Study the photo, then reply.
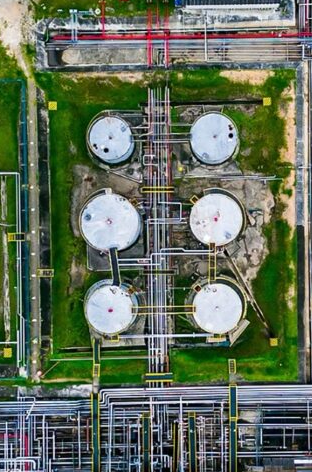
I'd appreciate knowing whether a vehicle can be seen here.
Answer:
No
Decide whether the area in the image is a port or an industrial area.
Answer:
industrial area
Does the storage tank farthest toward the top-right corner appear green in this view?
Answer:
No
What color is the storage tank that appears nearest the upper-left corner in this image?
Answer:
white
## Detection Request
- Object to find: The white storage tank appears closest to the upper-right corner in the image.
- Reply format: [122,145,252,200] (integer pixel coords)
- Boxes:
[190,114,241,168]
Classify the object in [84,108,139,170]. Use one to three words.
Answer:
storage tank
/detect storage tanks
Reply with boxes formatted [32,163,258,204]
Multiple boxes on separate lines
[191,277,248,333]
[189,186,250,250]
[190,114,241,168]
[84,108,139,170]
[76,183,145,257]
[84,281,142,336]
